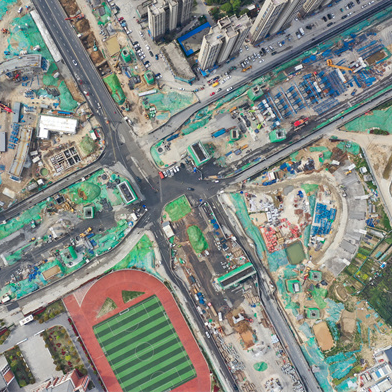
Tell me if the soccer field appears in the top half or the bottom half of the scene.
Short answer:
bottom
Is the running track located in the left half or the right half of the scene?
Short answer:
left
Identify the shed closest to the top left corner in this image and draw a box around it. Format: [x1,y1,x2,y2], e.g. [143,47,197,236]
[29,10,62,62]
